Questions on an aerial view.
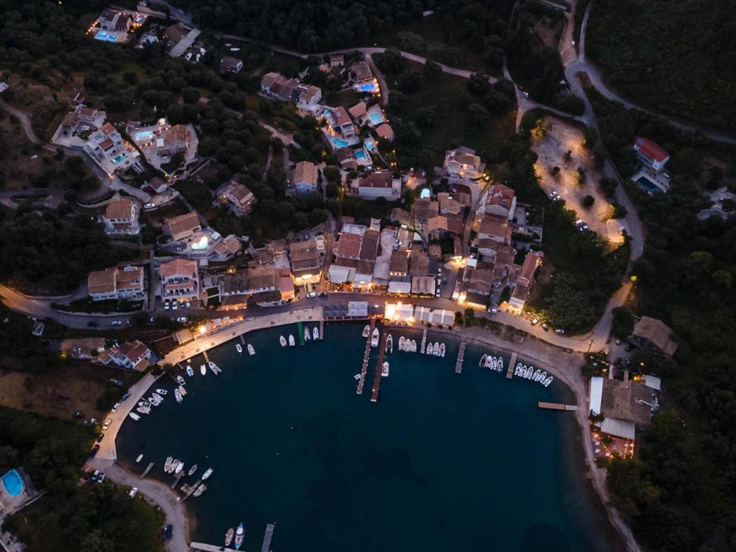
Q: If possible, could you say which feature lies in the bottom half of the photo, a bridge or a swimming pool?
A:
swimming pool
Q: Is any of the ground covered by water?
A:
Yes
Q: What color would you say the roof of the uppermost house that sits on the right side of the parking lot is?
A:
red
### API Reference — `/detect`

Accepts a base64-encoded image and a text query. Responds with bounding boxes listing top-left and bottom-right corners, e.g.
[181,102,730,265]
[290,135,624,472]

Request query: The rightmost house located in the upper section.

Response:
[631,137,672,174]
